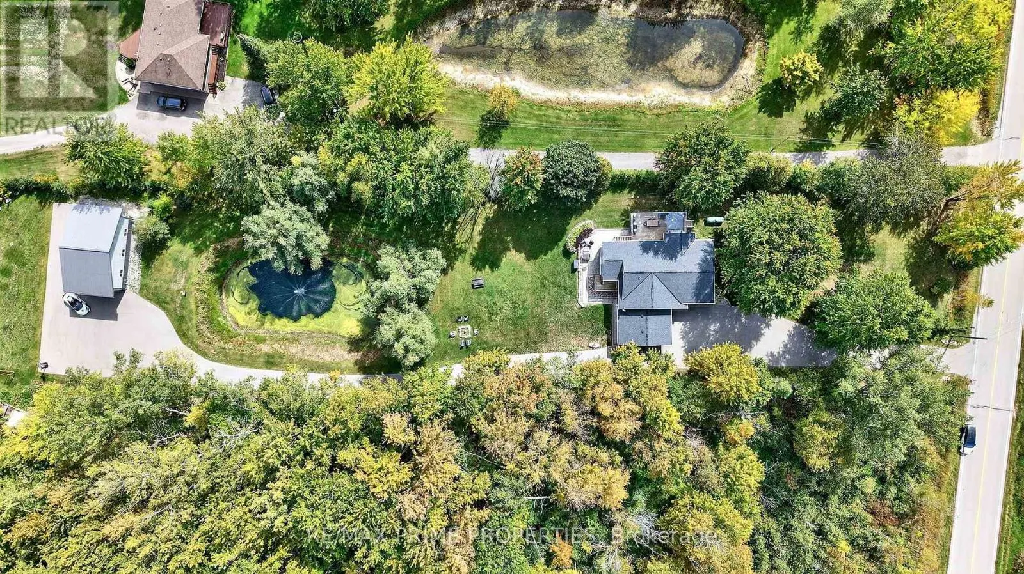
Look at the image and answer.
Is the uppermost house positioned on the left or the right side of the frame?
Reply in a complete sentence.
It is on the left.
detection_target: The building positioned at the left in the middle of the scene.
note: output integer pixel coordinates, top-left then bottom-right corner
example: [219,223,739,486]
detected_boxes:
[57,204,135,298]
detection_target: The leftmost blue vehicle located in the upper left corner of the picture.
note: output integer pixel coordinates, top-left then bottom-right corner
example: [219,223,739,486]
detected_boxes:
[157,95,188,110]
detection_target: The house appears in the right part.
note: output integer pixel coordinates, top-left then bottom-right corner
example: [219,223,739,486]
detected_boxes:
[601,230,721,346]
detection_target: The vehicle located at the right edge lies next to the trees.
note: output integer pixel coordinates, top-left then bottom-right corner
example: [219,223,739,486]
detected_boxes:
[957,424,976,456]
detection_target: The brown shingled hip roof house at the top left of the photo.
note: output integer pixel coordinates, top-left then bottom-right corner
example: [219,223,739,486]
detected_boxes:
[135,0,215,95]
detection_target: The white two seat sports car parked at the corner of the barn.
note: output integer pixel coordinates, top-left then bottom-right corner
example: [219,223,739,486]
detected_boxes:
[62,293,91,317]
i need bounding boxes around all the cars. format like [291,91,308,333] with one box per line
[260,82,277,111]
[62,293,91,317]
[157,95,188,110]
[957,424,976,456]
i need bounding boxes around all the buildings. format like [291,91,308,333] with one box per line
[57,204,135,298]
[601,230,721,346]
[135,0,215,95]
